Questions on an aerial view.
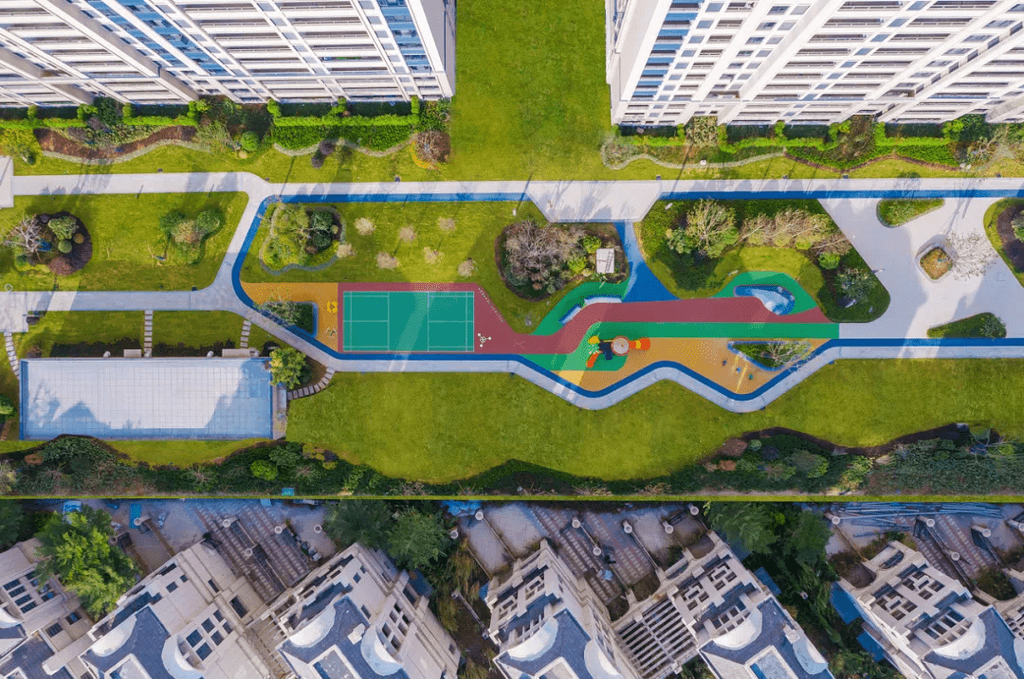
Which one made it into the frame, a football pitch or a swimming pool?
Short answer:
swimming pool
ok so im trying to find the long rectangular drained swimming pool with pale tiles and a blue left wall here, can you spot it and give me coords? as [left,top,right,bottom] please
[18,357,274,442]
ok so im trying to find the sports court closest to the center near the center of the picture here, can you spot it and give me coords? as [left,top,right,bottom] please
[343,292,474,352]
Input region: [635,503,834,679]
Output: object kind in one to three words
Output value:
house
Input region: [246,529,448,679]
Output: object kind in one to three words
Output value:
house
